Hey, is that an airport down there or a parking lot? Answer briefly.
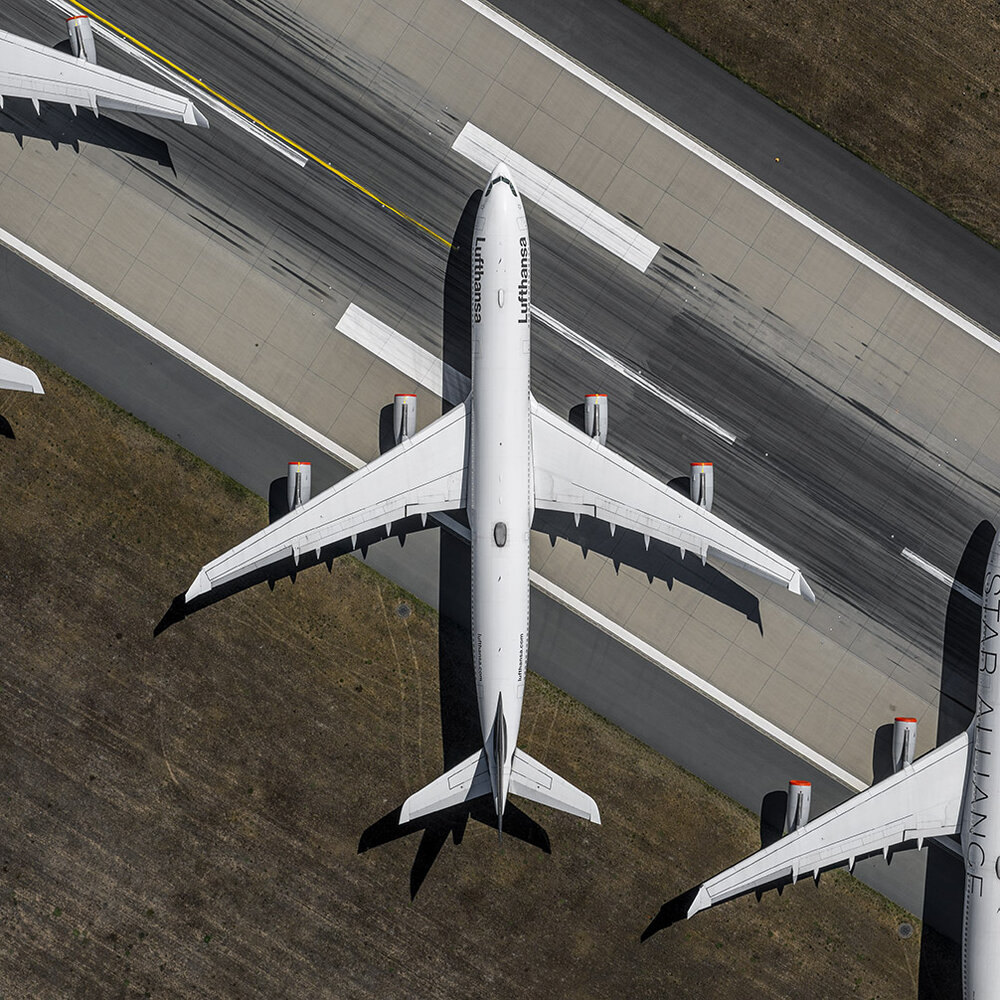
airport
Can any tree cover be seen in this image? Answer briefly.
No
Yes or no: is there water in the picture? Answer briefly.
No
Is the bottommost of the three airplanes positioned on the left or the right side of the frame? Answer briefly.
right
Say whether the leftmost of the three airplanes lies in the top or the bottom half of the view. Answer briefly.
top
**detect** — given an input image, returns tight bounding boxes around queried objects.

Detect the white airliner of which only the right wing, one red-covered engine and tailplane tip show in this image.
[0,19,209,128]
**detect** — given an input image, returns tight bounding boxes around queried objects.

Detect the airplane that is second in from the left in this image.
[187,162,814,841]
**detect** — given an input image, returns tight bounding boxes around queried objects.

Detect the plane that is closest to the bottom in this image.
[686,512,1000,1000]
